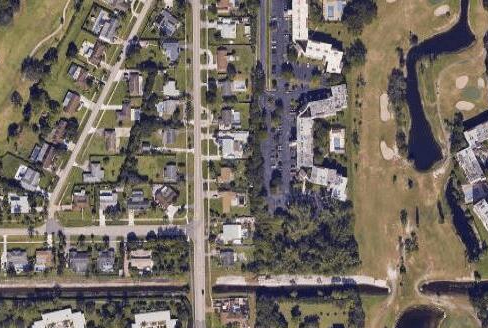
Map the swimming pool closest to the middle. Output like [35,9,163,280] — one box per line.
[330,130,345,153]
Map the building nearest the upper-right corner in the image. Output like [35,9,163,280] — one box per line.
[464,121,488,149]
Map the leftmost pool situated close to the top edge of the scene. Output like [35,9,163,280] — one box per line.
[323,0,345,20]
